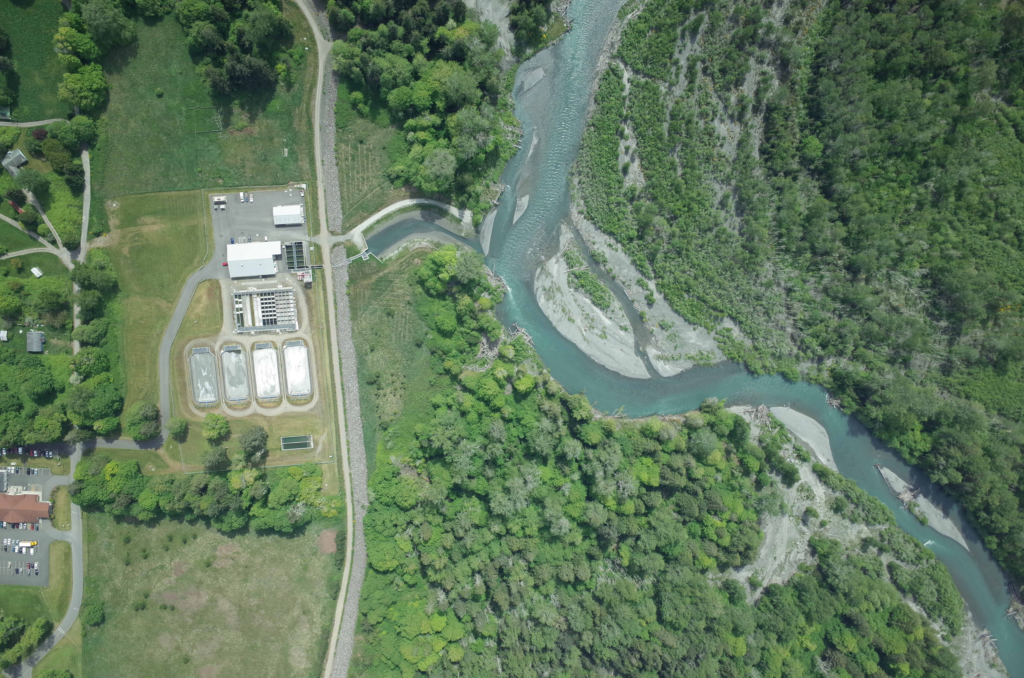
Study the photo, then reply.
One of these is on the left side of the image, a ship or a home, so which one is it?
home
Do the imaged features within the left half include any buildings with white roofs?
Yes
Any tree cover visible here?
Yes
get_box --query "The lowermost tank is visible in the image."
[280,435,314,451]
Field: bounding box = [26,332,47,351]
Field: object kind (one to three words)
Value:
house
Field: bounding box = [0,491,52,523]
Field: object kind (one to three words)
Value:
building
